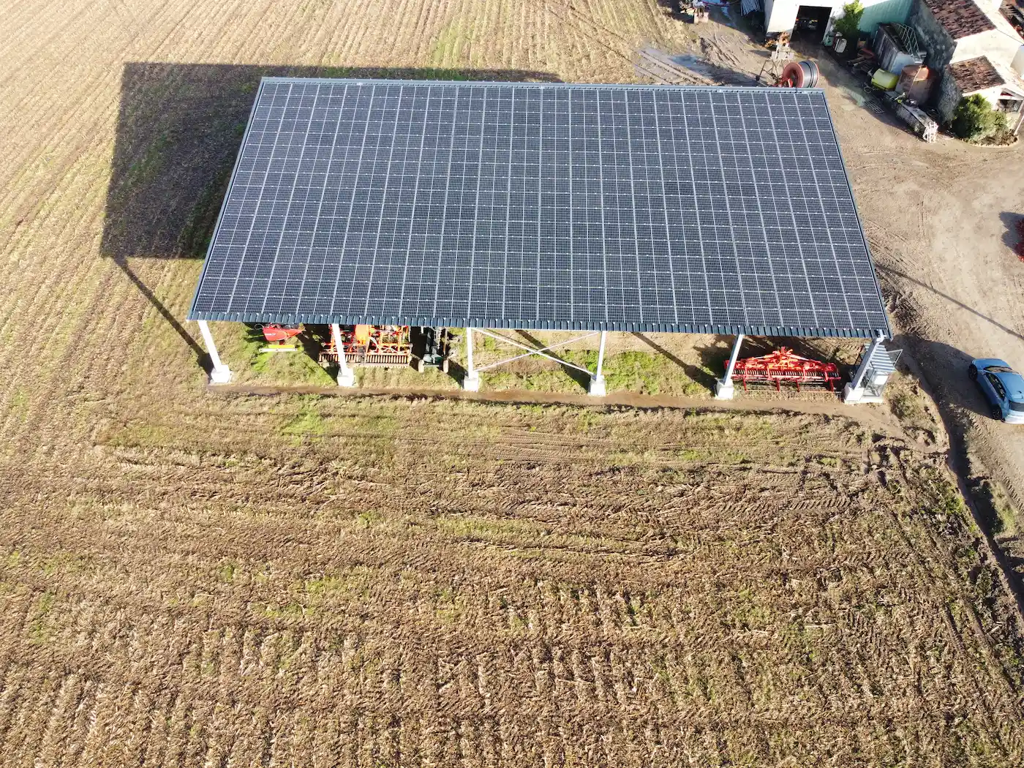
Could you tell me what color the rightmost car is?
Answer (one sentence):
The rightmost car looks blue in the image.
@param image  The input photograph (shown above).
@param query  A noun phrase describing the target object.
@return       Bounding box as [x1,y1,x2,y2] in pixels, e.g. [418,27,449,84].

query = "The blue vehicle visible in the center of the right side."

[970,360,1024,425]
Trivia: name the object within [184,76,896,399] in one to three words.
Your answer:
hangar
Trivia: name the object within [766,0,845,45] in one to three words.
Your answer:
barn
